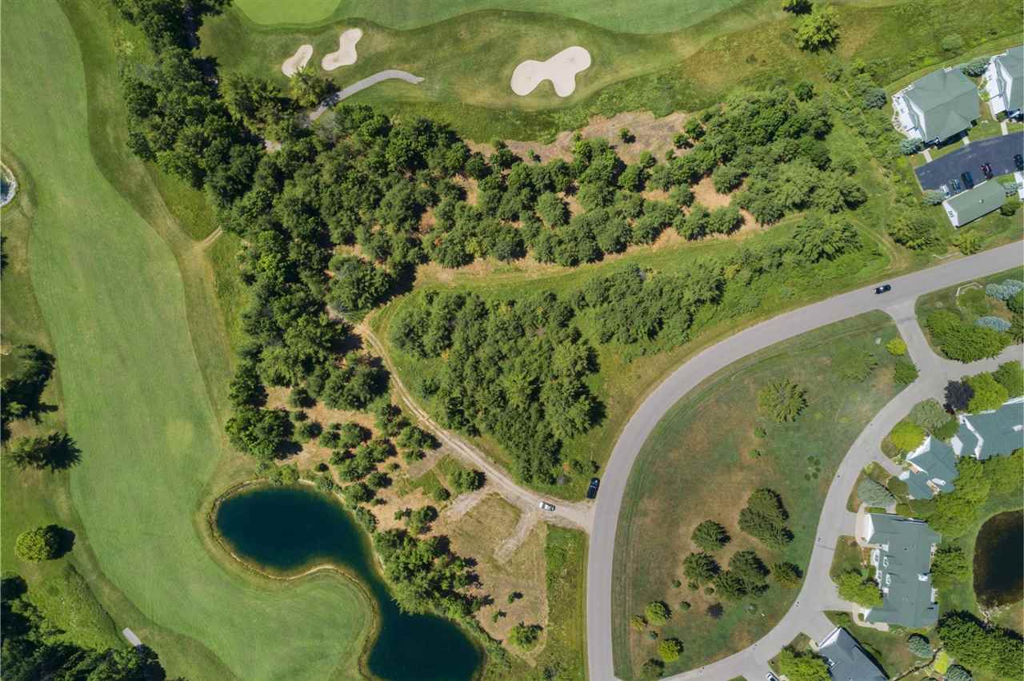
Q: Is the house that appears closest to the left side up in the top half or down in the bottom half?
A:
bottom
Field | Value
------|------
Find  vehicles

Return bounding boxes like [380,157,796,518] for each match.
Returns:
[539,500,555,511]
[1011,152,1024,171]
[950,175,964,194]
[960,169,976,190]
[939,181,953,199]
[873,284,891,294]
[980,161,994,180]
[586,476,600,500]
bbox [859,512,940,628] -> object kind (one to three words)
house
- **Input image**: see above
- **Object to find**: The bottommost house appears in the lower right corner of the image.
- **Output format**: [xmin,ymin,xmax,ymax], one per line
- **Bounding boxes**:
[816,624,890,681]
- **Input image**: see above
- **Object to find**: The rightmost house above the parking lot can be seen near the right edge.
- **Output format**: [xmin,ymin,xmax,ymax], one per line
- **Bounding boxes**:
[980,42,1024,112]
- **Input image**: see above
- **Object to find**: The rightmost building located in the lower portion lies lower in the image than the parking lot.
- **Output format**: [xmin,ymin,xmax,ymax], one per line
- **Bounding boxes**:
[952,392,1024,461]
